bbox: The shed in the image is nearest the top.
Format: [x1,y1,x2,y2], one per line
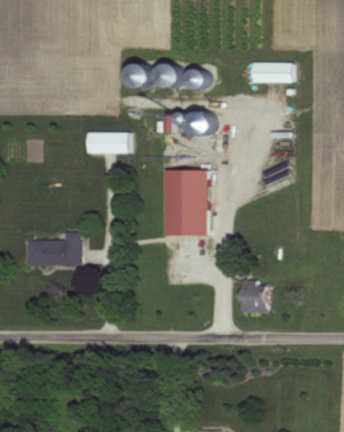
[250,62,298,83]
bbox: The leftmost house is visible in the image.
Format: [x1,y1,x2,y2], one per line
[28,231,84,266]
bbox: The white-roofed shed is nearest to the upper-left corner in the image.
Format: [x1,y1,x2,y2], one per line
[84,132,134,154]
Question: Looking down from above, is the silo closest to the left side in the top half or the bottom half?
top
